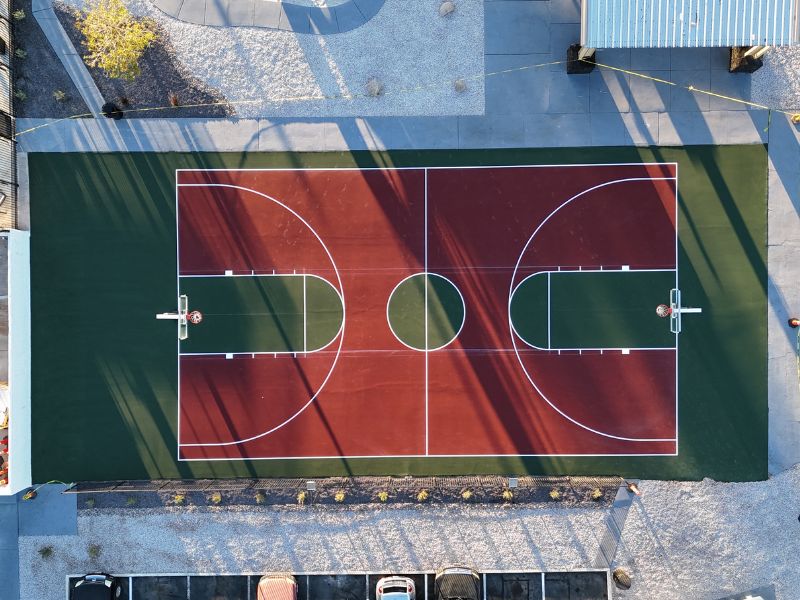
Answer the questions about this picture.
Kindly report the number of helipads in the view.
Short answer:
0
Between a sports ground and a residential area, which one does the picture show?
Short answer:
sports ground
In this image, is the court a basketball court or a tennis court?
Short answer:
basketball court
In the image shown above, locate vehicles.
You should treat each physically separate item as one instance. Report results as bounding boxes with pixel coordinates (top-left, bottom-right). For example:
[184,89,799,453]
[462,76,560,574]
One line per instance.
[258,568,300,600]
[376,573,416,600]
[77,570,123,600]
[435,562,480,600]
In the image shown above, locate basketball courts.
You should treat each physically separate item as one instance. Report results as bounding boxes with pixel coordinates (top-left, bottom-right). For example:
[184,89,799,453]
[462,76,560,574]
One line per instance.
[29,145,769,485]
